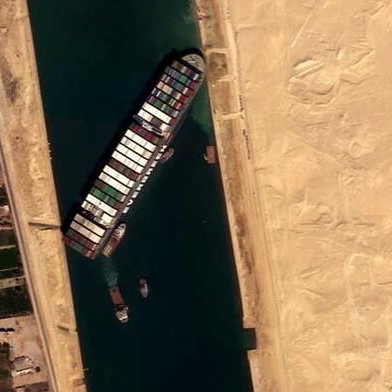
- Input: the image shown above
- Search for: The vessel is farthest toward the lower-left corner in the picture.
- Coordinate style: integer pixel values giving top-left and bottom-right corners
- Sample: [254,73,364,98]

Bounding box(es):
[109,283,128,323]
